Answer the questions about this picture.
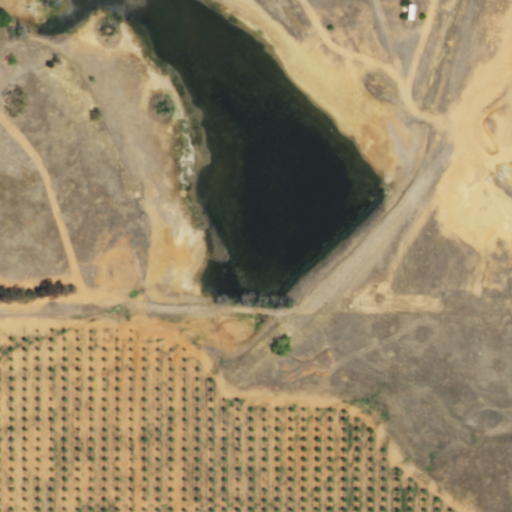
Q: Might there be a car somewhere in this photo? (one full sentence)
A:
No, I find no car anywhere in the image.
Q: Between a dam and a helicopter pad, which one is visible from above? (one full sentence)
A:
I can see a dam in this picture.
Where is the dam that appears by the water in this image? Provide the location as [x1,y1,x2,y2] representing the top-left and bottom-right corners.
[128,140,442,319]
